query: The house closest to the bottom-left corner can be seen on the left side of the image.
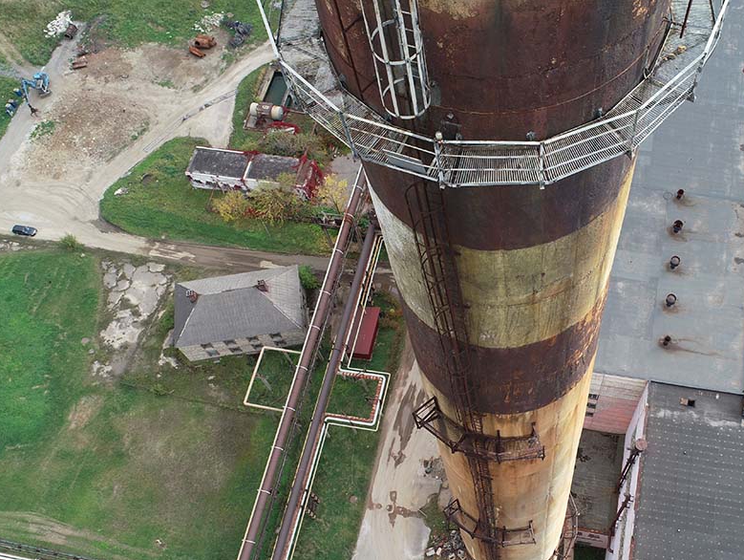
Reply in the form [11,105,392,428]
[173,267,309,357]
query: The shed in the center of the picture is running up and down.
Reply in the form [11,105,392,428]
[350,306,382,365]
